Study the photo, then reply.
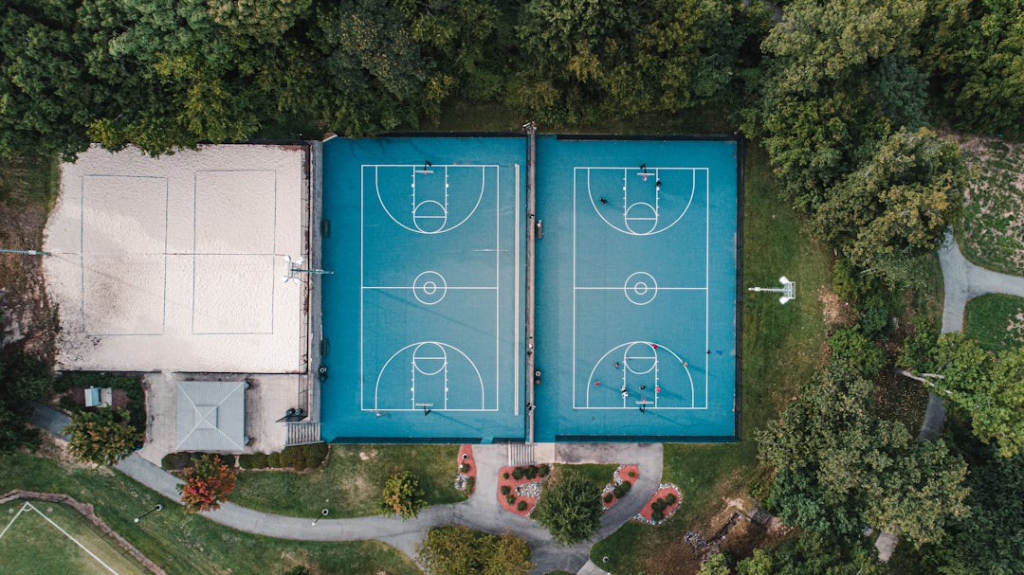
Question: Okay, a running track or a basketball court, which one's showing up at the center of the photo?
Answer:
basketball court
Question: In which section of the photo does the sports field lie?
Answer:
bottom left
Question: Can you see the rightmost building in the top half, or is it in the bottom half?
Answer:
bottom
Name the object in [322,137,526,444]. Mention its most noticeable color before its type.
blue basketball court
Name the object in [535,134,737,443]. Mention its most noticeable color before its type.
blue basketball court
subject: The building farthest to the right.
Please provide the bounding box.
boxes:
[176,381,253,450]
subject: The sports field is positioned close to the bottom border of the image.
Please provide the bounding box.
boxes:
[0,497,146,575]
